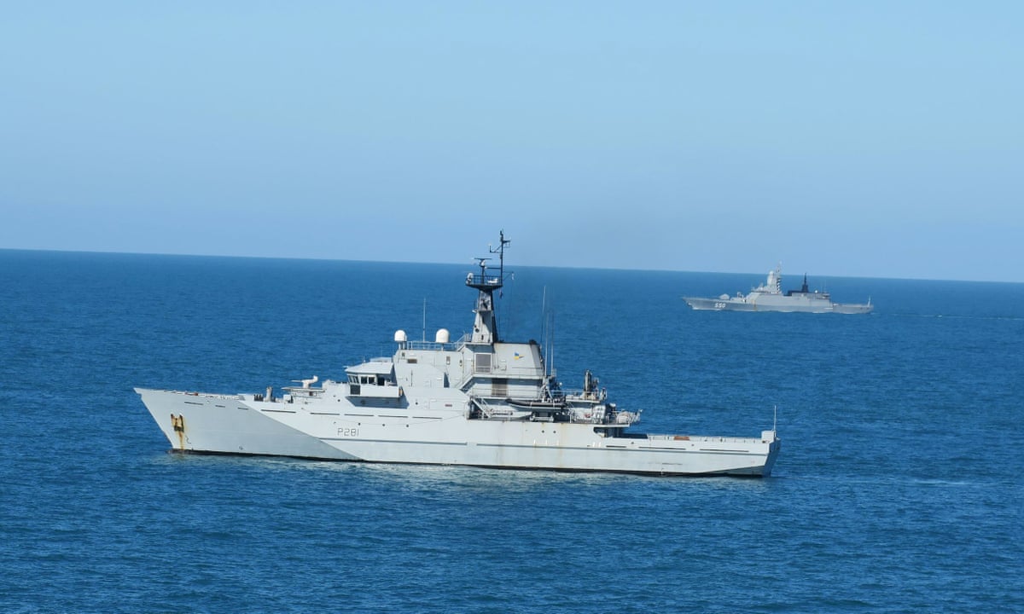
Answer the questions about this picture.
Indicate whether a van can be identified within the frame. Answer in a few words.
No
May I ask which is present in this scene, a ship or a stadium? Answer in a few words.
ship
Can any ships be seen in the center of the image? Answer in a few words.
Yes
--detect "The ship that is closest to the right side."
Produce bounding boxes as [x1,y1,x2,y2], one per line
[684,262,873,314]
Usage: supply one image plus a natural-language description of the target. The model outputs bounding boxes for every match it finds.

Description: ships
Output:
[684,262,873,314]
[134,231,780,476]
